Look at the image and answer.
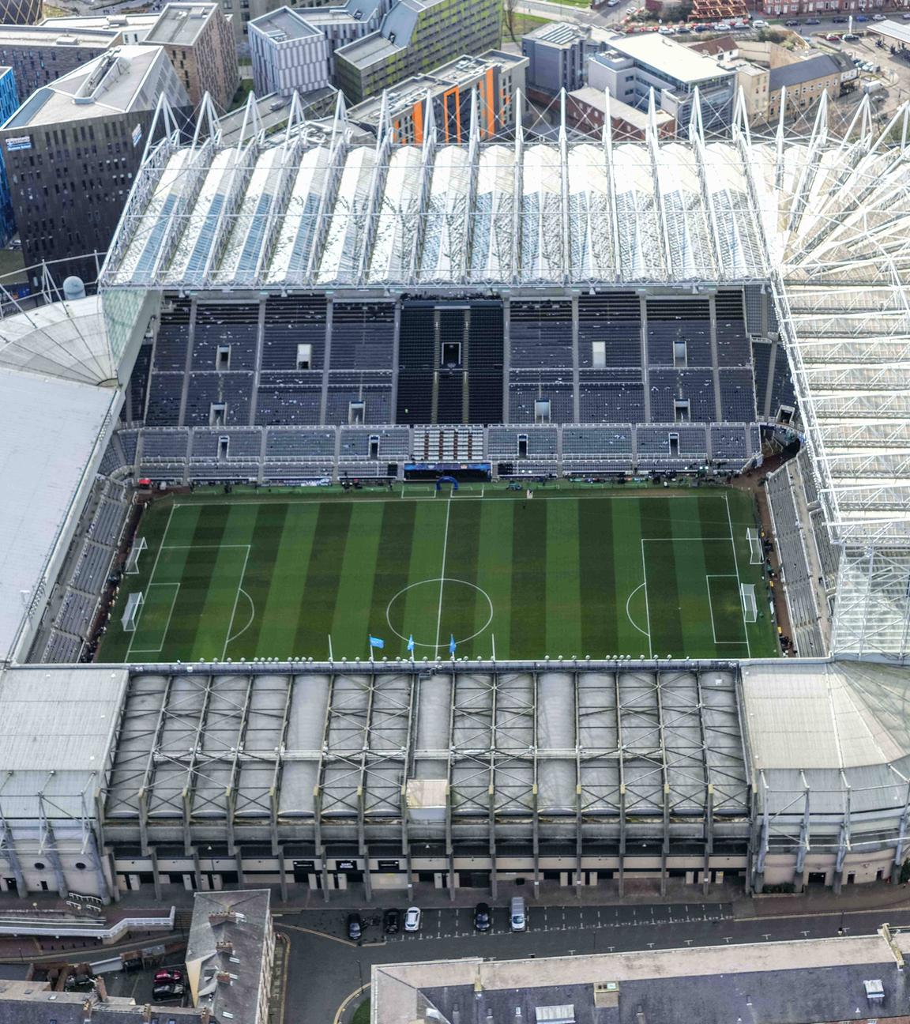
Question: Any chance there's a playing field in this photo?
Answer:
Yes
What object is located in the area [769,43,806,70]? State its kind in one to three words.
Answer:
shed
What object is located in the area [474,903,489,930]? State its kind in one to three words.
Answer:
car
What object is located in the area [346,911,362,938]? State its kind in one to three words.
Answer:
car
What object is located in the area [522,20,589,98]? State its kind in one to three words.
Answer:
building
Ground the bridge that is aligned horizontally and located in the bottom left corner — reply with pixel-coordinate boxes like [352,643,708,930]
[0,906,177,953]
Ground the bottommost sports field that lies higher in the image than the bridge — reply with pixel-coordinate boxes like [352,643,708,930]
[102,494,751,772]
